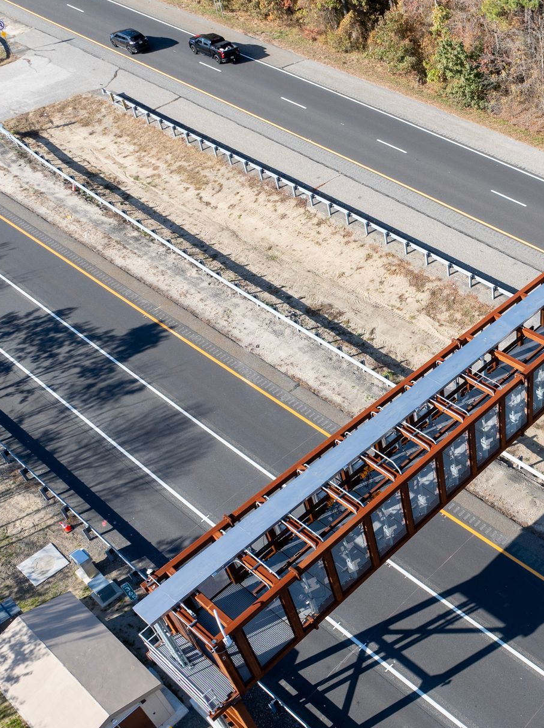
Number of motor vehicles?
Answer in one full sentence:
The photo contains 2 motor vehicles.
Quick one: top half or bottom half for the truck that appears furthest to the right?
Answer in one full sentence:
Seen from above, the truck that appears furthest to the right lies in the top half of the view.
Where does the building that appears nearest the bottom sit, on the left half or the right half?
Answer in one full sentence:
The building that appears nearest the bottom appears in the left half of the scene.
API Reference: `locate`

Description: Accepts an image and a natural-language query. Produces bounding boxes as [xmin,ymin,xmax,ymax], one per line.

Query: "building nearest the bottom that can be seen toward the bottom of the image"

[0,597,168,728]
